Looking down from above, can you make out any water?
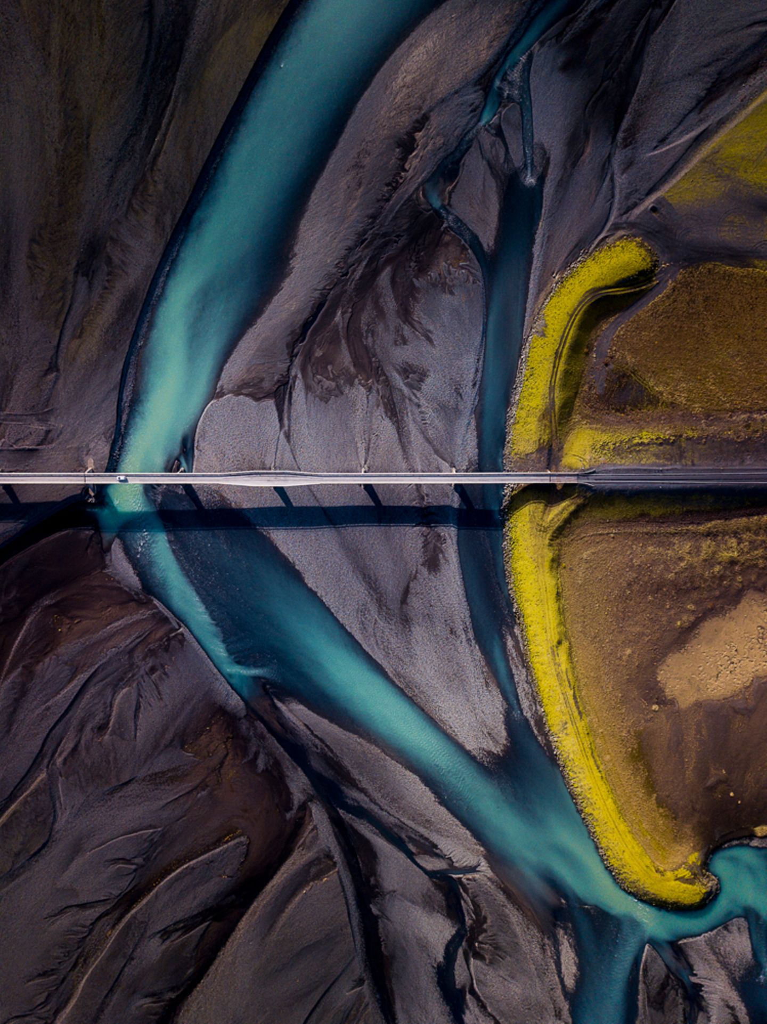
Yes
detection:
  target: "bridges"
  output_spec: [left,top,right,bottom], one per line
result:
[0,469,593,493]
